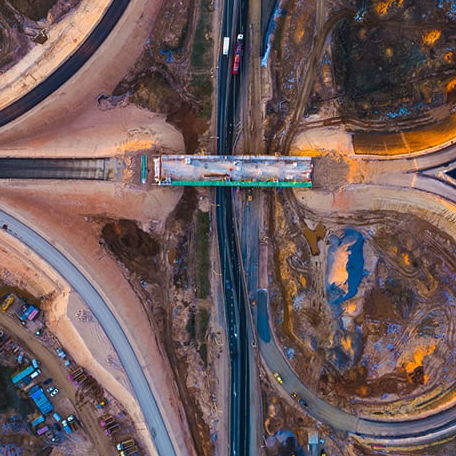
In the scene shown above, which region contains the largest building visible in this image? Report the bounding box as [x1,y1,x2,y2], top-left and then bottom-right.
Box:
[31,384,55,414]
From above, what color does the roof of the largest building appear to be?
blue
